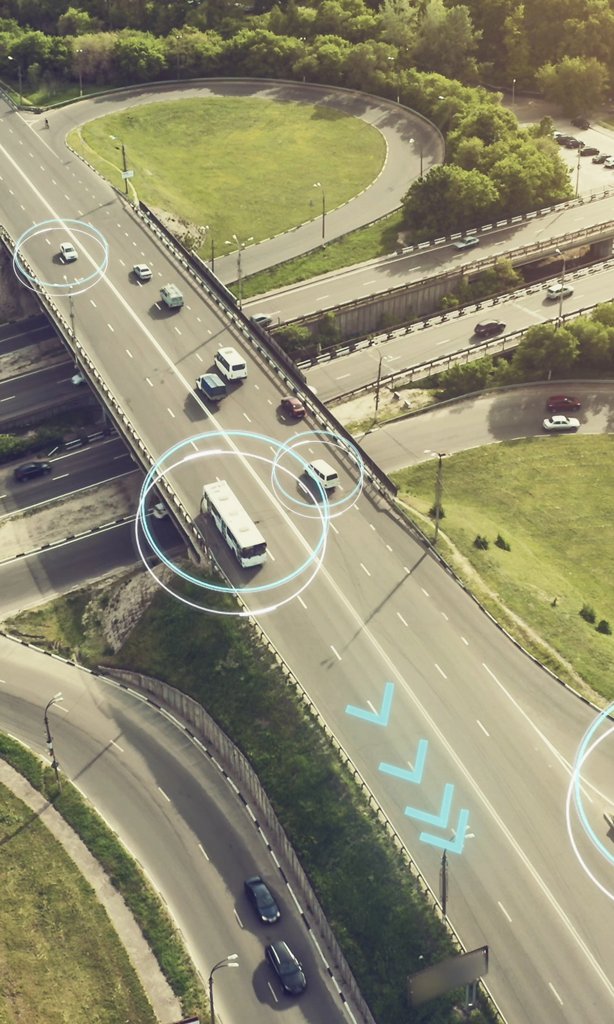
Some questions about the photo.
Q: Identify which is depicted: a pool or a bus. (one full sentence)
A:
The image shows a bus.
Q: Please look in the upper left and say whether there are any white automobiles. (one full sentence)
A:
Yes, I can see a white automobile in the upper left.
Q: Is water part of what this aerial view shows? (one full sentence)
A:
No, the picture contains no water.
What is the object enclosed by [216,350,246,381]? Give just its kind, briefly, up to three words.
vehicle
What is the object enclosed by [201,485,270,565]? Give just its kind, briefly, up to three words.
bus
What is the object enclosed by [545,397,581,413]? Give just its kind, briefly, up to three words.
car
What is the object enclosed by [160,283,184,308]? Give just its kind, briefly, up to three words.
vehicle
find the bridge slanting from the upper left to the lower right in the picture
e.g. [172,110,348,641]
[0,189,435,599]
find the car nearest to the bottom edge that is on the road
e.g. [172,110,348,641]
[267,940,304,995]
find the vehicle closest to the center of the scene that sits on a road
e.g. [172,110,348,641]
[307,461,337,491]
